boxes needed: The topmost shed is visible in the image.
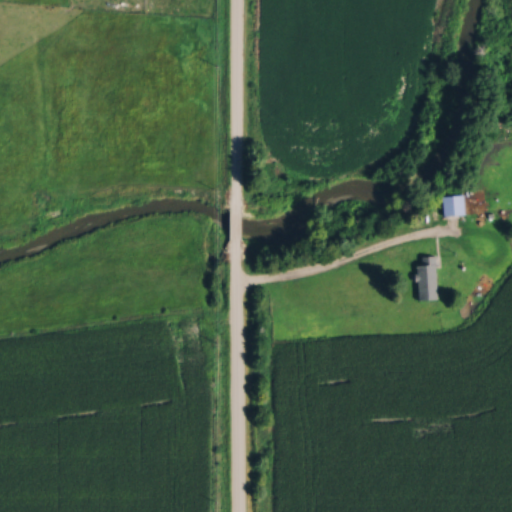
[444,195,466,218]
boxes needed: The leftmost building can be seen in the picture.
[416,256,440,301]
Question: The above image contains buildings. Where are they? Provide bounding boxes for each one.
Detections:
[444,195,466,218]
[416,256,440,301]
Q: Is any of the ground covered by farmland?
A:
Yes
